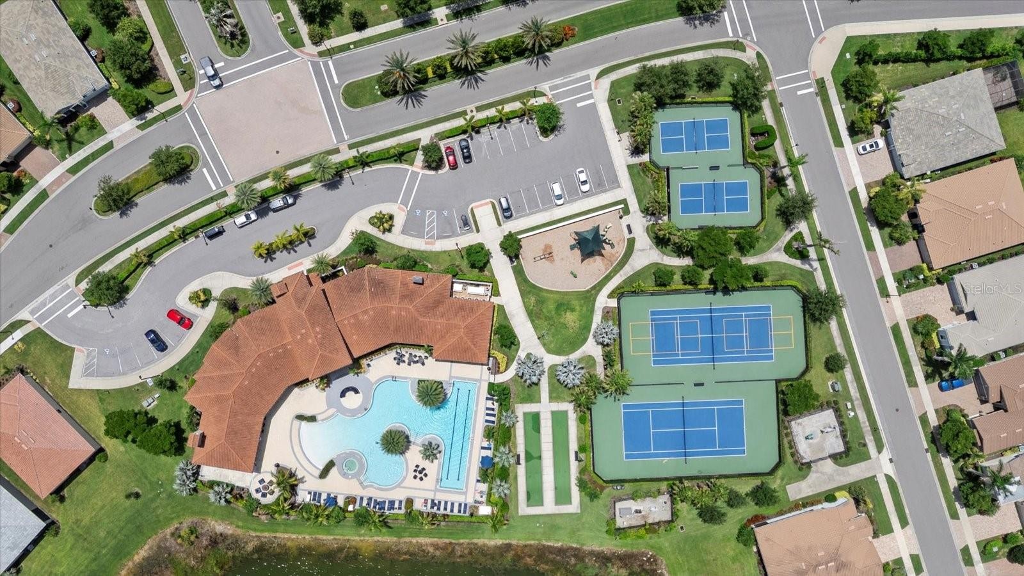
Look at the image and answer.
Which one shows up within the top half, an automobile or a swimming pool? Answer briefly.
automobile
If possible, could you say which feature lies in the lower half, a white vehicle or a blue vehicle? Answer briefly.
blue vehicle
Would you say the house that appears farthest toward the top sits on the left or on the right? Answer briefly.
left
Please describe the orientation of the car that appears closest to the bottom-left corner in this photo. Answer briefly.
at an angle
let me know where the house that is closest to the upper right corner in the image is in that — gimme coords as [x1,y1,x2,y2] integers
[885,60,1024,179]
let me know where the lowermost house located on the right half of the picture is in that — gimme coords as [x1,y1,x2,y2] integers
[752,499,886,576]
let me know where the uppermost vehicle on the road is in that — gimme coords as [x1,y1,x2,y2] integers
[200,55,223,89]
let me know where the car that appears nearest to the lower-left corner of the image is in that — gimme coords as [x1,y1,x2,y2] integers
[144,329,167,352]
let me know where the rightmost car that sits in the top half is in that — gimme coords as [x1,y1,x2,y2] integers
[856,139,883,155]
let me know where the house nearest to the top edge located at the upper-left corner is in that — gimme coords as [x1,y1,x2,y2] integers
[0,0,115,119]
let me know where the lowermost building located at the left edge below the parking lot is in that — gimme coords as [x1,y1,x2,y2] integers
[0,461,53,573]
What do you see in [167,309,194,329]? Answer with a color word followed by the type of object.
red car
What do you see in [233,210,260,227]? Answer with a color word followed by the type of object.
white car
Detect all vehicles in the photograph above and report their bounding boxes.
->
[940,376,975,392]
[459,138,472,164]
[233,210,260,227]
[460,214,471,231]
[268,195,297,211]
[144,329,167,352]
[167,309,194,329]
[856,139,883,155]
[550,182,564,207]
[200,55,223,89]
[498,195,513,221]
[202,224,227,239]
[445,146,458,171]
[576,167,590,194]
